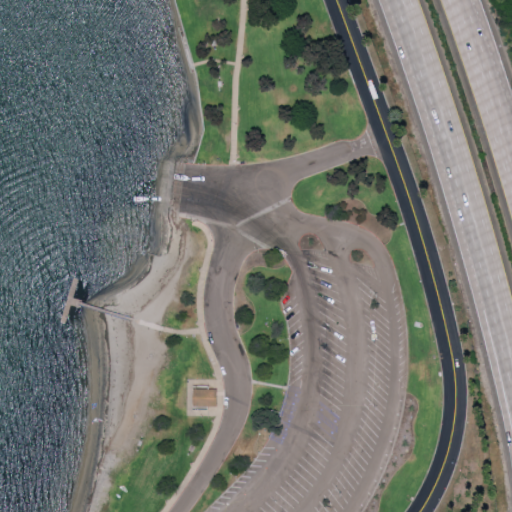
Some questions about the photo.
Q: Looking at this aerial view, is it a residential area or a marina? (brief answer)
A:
marina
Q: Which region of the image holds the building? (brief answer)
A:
bottom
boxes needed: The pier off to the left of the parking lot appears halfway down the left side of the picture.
[60,278,141,324]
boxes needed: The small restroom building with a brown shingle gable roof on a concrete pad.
[192,387,217,410]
